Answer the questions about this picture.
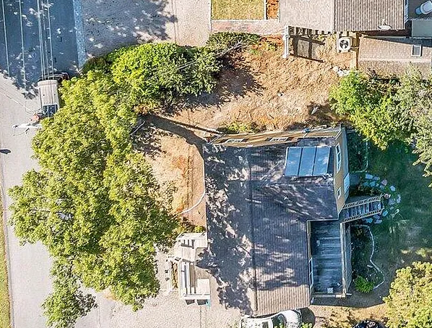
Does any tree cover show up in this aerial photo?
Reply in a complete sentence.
Yes, there's tree cover in this view.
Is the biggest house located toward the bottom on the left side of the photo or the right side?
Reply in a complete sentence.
The biggest house located toward the bottom sits on the right side.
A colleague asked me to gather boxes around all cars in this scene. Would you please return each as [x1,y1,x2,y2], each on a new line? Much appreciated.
[358,319,386,328]
[237,302,308,328]
[34,61,74,126]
